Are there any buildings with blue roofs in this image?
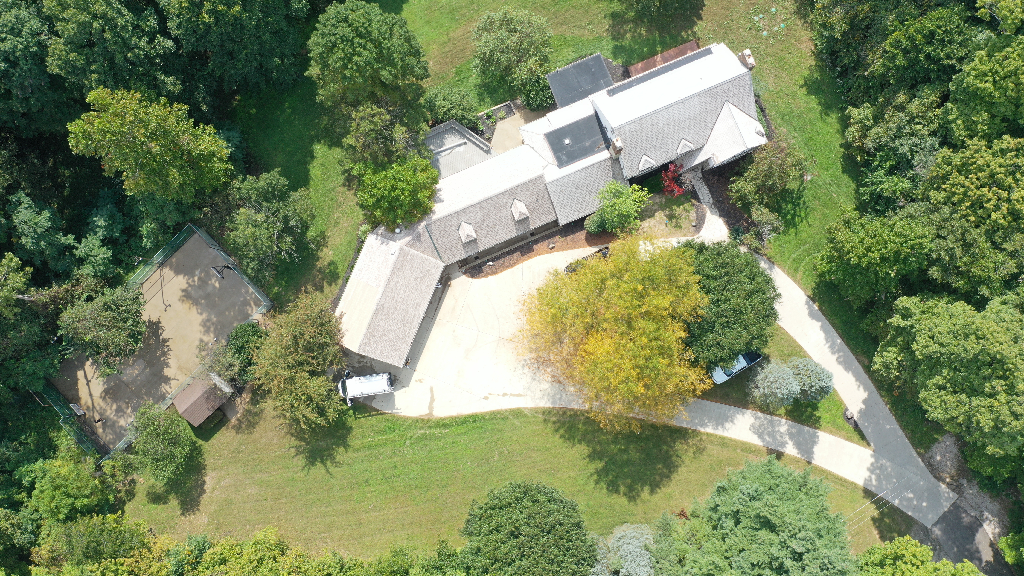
No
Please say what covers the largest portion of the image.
trees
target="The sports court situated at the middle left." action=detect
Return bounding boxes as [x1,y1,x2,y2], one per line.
[52,232,271,454]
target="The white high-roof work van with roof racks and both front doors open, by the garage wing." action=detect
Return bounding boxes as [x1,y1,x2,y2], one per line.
[339,366,398,407]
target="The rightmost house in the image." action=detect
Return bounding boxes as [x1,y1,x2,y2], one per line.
[327,40,766,368]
